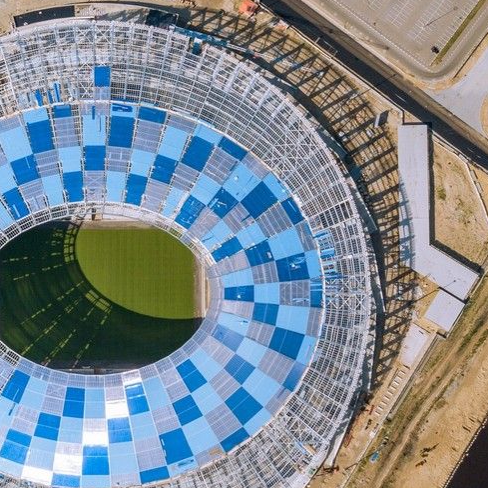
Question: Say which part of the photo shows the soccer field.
left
